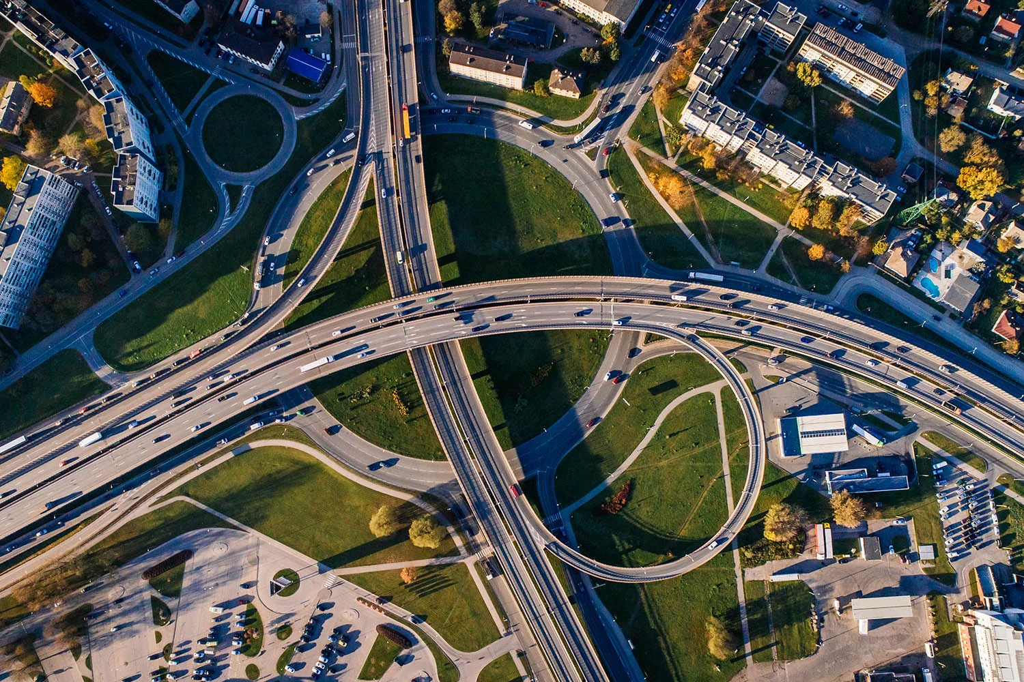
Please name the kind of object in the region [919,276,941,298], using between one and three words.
swimming pool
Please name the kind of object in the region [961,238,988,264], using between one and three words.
house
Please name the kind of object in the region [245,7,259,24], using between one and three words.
vehicle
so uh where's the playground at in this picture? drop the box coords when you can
[759,78,787,105]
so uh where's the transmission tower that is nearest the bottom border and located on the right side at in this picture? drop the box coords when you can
[898,200,931,223]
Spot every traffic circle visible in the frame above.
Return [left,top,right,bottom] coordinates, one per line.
[189,82,297,185]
